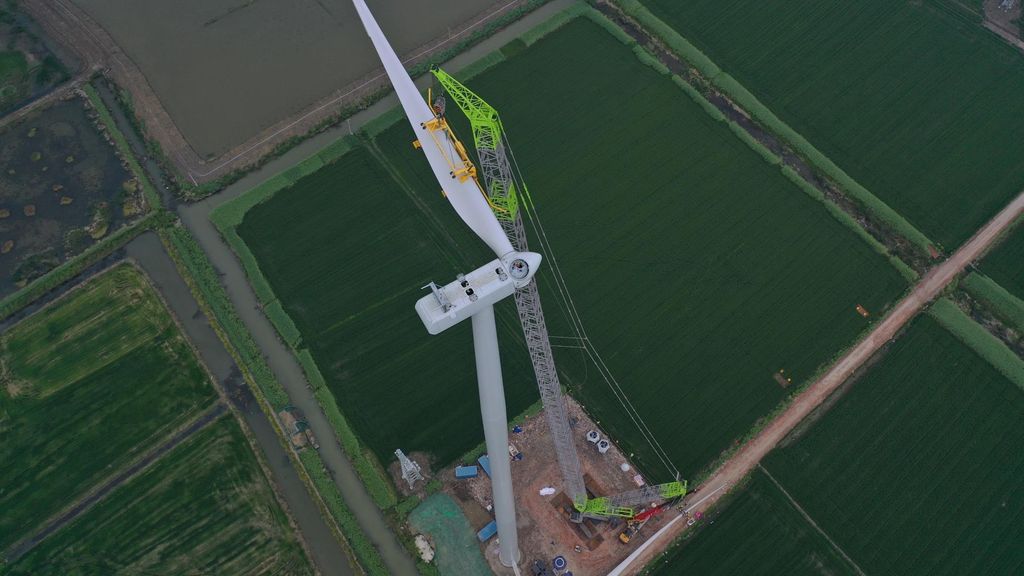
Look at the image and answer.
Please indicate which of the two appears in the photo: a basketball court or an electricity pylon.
electricity pylon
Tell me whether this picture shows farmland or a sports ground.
farmland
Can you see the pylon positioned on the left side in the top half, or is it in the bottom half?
bottom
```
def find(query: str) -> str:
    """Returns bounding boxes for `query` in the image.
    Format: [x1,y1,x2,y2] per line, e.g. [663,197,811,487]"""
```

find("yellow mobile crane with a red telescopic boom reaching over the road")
[621,486,700,543]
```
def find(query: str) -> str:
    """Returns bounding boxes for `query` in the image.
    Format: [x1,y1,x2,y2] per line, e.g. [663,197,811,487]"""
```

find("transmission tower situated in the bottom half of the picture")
[395,446,424,489]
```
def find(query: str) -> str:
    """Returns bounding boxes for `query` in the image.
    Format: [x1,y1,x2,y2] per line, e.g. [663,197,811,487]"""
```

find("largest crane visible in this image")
[430,61,683,539]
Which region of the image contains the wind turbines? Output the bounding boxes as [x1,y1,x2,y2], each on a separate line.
[415,255,543,576]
